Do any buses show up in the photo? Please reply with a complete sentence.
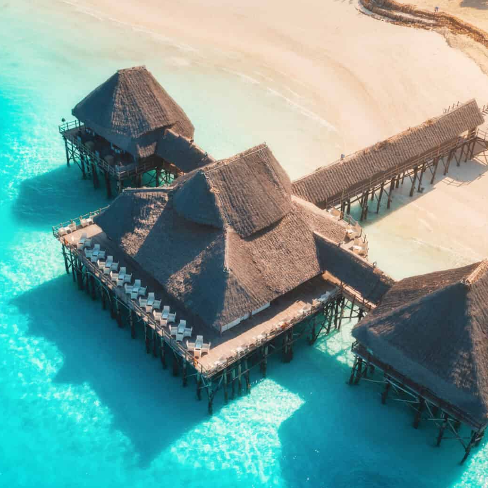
No, this view has no bus in it.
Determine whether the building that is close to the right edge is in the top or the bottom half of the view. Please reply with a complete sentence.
You can find the building that is close to the right edge in the bottom half.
